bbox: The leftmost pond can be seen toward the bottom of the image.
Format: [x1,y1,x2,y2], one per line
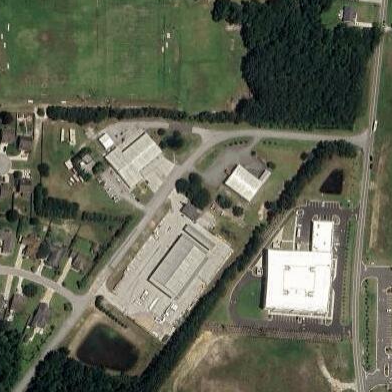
[76,322,139,370]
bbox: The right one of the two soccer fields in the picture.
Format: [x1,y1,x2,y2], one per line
[99,0,163,93]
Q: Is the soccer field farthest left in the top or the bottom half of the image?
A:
top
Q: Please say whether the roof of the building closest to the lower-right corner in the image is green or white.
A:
white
